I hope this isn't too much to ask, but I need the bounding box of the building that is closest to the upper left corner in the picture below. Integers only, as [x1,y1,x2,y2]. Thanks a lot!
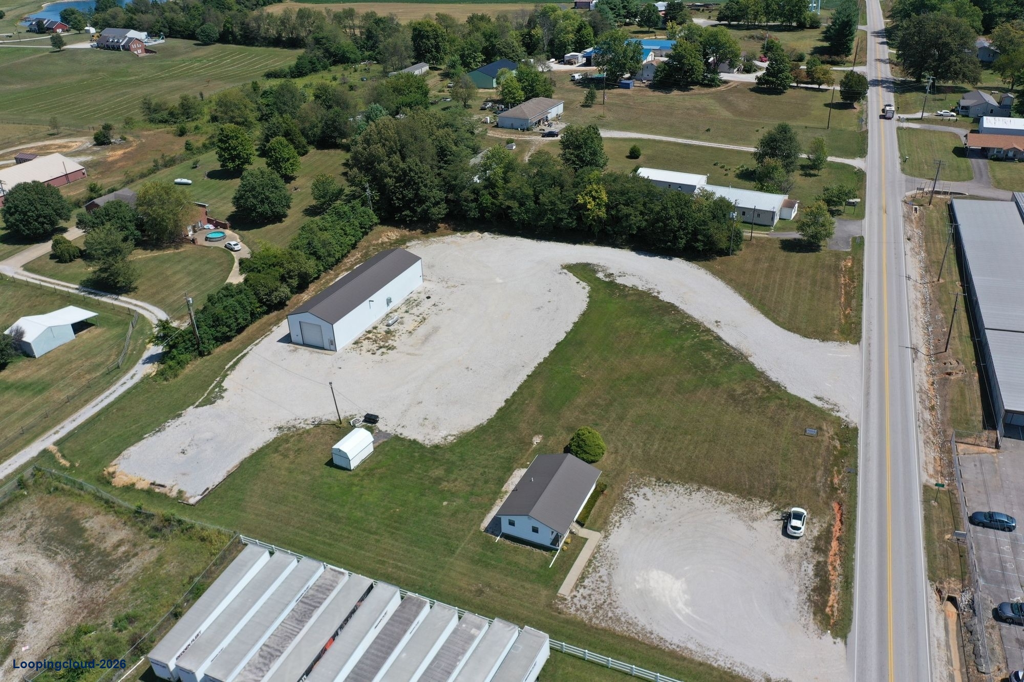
[25,15,68,32]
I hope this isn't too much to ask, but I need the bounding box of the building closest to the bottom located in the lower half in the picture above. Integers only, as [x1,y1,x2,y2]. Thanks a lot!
[495,454,601,548]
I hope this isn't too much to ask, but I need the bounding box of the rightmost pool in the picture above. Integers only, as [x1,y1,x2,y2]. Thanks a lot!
[203,229,227,242]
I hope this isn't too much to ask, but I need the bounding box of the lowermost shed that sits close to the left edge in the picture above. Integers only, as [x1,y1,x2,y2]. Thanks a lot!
[12,306,91,358]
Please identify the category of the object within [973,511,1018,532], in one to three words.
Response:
car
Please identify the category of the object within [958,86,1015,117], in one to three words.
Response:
house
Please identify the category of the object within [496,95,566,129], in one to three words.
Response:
house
